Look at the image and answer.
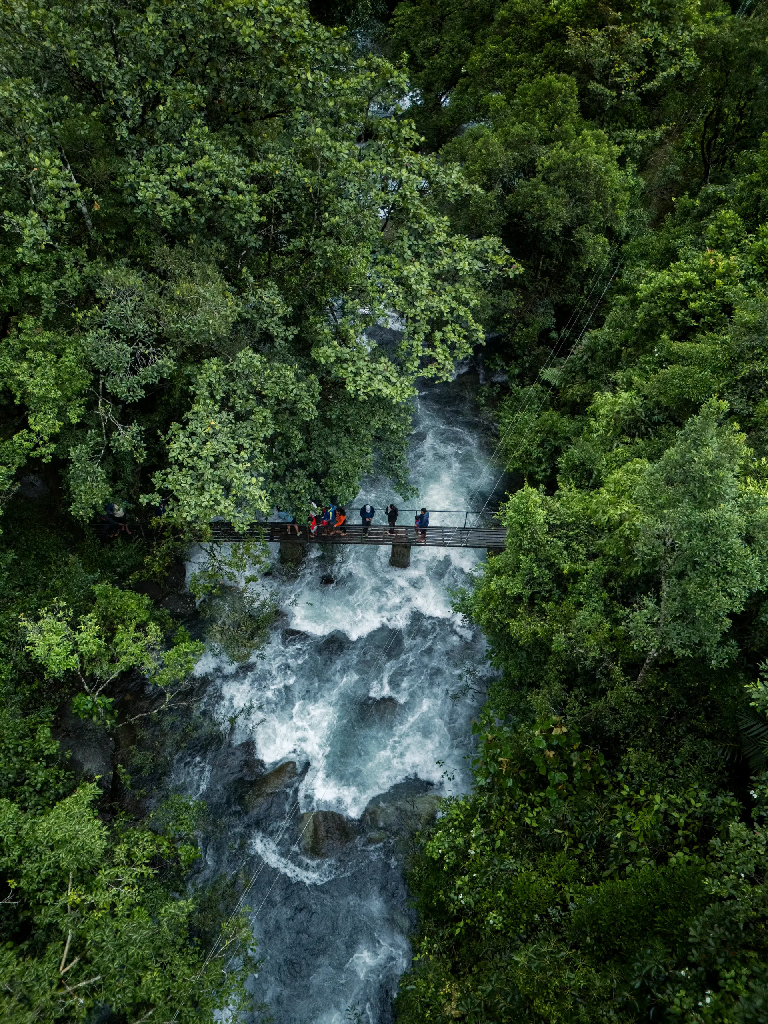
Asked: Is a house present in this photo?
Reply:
No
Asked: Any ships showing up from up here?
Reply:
No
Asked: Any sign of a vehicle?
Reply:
No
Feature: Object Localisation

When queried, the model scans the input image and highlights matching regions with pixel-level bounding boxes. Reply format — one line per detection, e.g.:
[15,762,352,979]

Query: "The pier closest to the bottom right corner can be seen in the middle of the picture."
[390,551,410,573]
